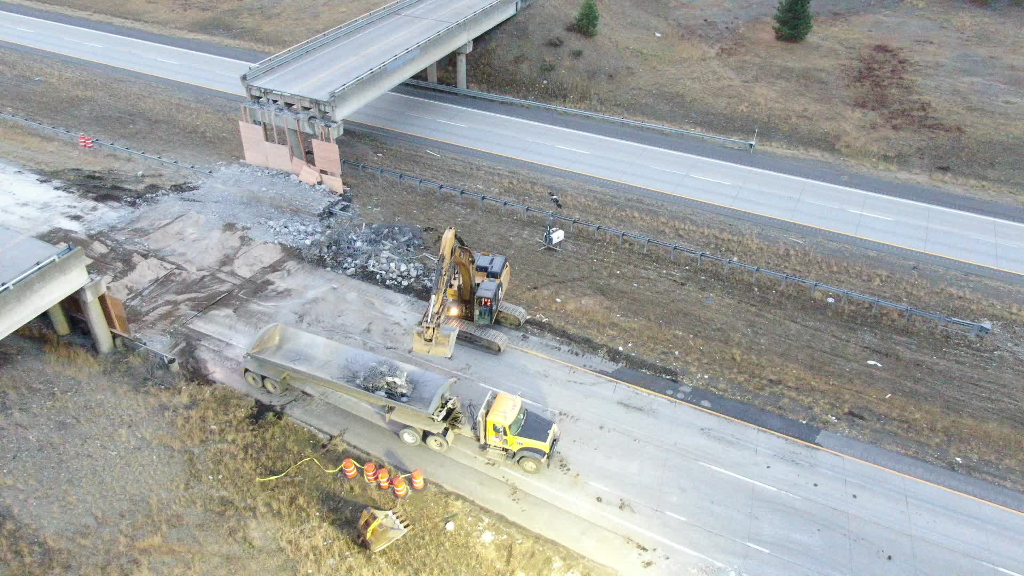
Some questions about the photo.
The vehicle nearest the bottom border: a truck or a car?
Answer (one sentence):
I'd identify the vehicle nearest the bottom border as a truck.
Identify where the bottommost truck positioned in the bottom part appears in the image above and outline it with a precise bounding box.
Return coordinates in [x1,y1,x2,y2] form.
[402,385,567,478]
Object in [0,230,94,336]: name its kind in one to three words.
overpass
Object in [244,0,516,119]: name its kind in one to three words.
overpass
